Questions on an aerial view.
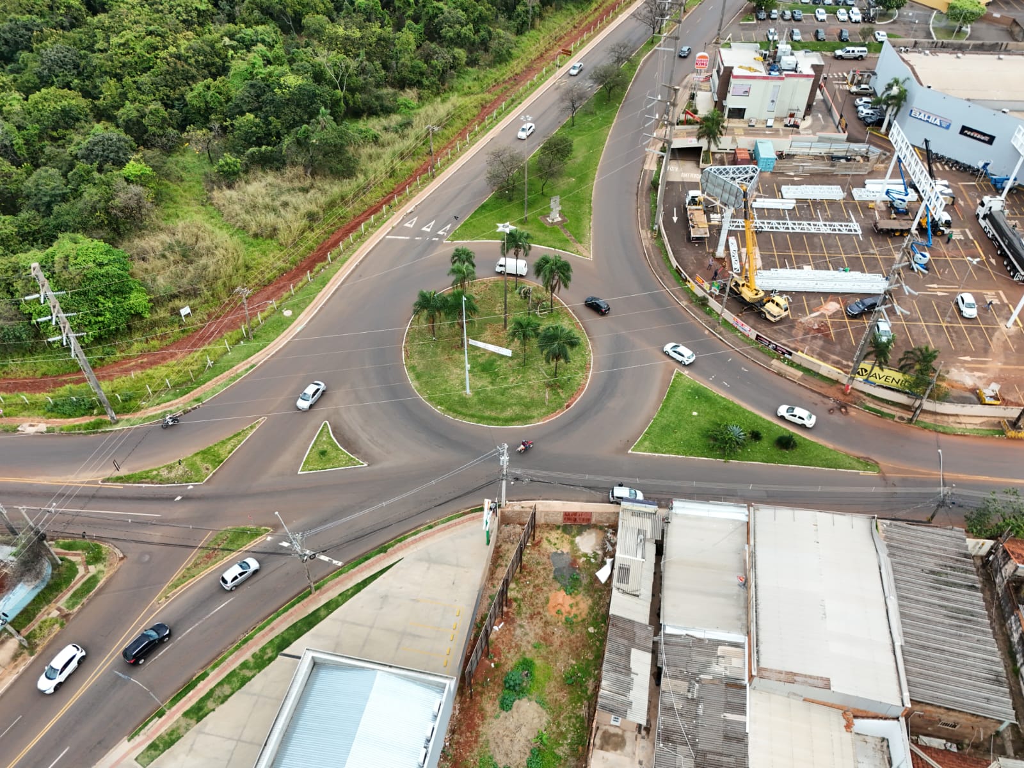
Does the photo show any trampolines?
No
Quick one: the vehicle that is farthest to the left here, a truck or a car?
car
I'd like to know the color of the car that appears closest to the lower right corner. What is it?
white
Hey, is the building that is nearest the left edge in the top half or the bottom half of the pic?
bottom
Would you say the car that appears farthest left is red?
No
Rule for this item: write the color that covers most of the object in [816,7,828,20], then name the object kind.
white vehicle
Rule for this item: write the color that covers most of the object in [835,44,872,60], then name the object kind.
white vehicle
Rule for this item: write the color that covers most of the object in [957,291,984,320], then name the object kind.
white car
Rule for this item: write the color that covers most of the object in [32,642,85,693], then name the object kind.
white car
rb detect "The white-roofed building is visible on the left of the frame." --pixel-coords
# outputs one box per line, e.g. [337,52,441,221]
[252,648,457,768]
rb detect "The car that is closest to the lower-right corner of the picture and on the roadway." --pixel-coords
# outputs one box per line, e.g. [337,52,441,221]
[778,404,819,429]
